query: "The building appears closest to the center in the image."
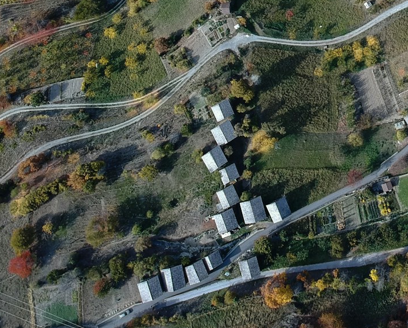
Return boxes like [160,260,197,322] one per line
[201,145,229,173]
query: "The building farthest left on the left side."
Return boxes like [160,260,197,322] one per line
[137,273,167,302]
